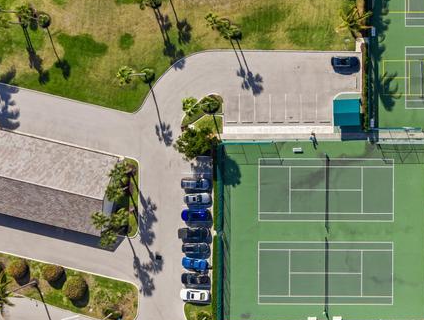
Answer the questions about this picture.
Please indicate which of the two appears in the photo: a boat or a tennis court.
tennis court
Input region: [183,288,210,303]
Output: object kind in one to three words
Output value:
car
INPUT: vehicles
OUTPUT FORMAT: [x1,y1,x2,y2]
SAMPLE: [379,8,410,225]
[184,192,213,206]
[183,288,210,303]
[182,177,212,191]
[183,256,209,270]
[182,243,211,257]
[176,227,211,242]
[332,56,359,70]
[184,272,210,287]
[183,209,210,222]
